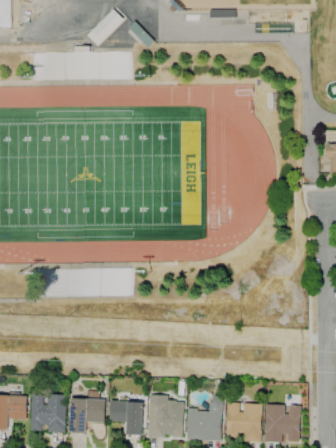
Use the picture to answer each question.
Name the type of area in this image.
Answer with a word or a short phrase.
sports ground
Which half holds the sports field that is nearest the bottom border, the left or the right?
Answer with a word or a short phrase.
left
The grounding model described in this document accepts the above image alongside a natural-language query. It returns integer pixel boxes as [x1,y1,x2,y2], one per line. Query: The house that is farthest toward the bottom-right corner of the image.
[266,405,302,442]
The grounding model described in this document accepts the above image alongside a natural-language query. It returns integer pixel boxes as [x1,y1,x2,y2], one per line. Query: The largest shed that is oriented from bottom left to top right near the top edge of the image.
[88,8,126,46]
